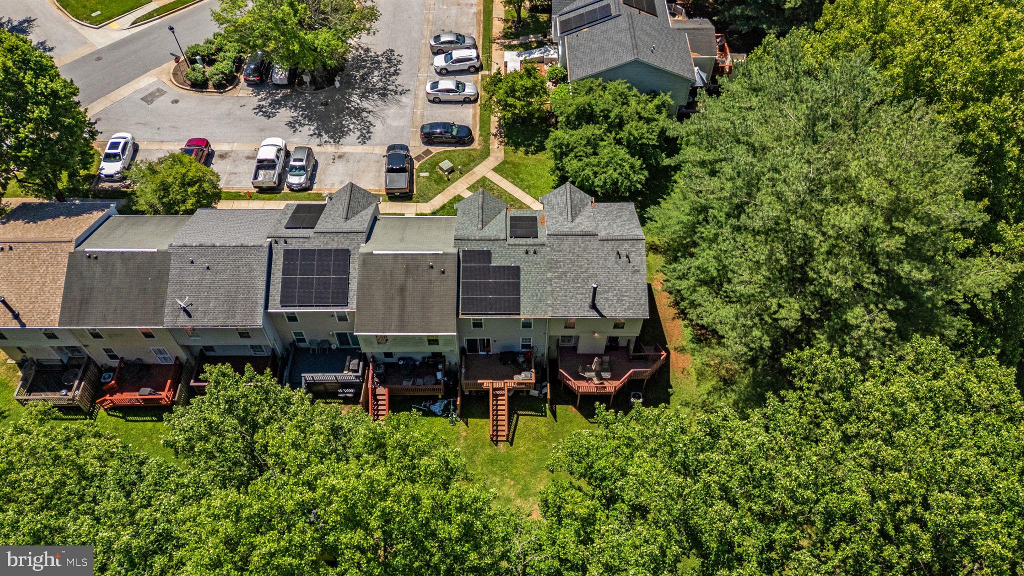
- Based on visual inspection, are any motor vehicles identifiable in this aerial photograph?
Yes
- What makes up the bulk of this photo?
trees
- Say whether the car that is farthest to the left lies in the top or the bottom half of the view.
top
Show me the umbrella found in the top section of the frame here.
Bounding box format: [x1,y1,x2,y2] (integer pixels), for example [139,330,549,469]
[688,83,711,109]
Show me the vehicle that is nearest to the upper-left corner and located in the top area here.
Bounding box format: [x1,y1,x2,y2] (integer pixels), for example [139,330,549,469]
[99,135,135,178]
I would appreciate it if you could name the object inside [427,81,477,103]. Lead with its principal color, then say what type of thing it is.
gray car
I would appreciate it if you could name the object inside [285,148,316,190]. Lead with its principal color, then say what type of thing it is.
gray car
